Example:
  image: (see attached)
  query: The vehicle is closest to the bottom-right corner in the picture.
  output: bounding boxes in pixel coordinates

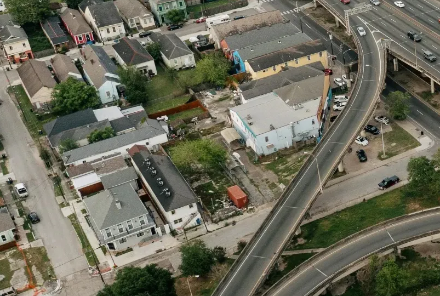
[376,173,400,188]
